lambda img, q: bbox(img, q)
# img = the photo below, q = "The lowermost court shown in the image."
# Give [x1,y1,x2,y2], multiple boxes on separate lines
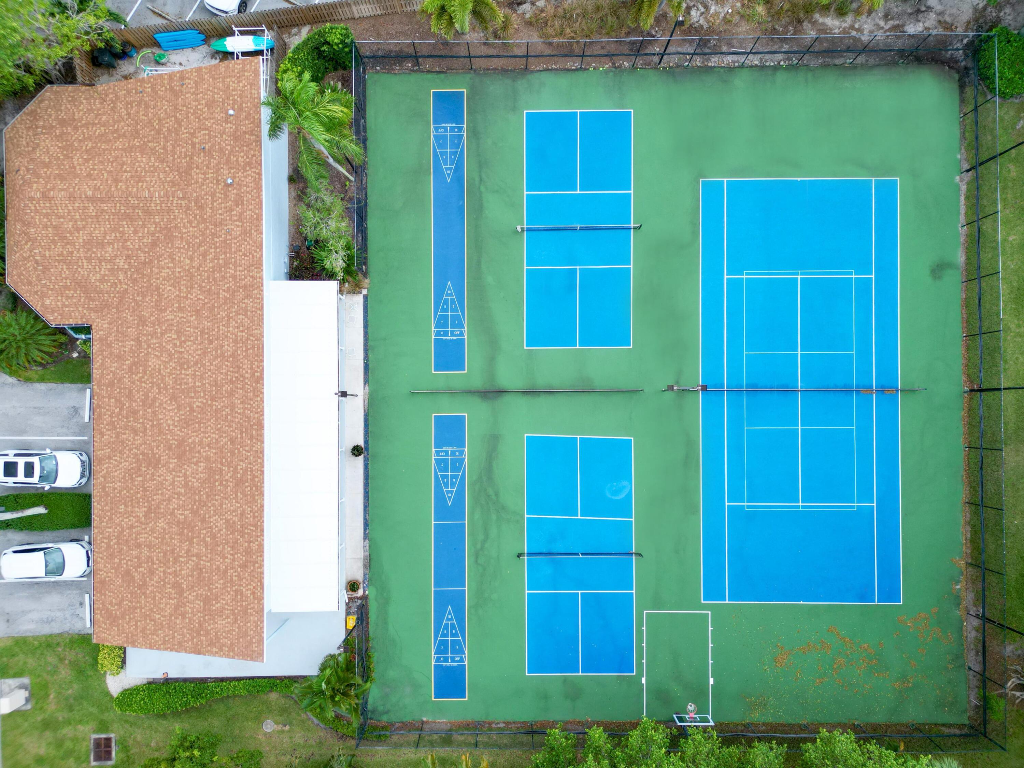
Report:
[642,611,714,720]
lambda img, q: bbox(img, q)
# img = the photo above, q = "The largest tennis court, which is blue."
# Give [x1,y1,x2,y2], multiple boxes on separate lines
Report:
[700,178,903,604]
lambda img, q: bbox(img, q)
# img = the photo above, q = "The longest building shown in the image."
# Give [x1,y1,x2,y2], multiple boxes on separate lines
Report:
[1,56,345,663]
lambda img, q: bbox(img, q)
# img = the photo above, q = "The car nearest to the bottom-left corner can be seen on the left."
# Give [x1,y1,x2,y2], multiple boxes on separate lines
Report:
[0,538,90,583]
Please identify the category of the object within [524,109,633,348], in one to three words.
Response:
sports court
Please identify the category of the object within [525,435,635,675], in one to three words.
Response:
sports court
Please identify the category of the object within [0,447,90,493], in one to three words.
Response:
car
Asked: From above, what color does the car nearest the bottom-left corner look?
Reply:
white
